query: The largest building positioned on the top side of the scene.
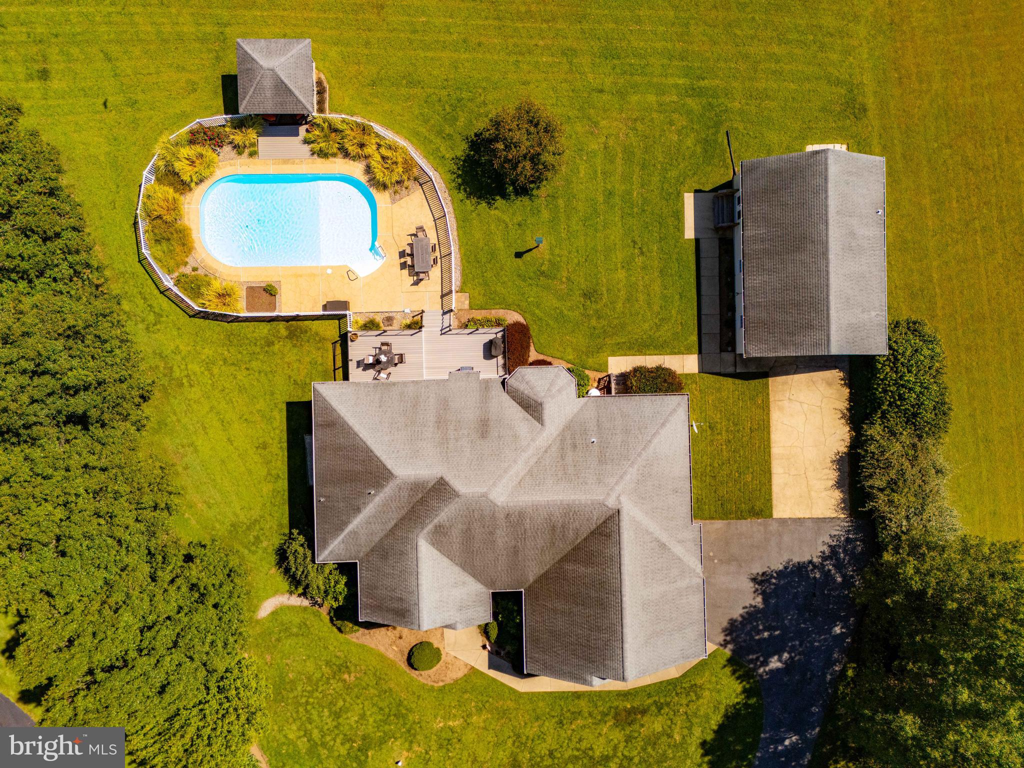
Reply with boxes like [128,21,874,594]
[732,149,890,357]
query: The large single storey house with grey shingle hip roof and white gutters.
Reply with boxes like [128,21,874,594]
[310,364,709,687]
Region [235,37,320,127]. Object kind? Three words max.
gazebo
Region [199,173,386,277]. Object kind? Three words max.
swimming pool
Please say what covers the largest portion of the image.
grass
